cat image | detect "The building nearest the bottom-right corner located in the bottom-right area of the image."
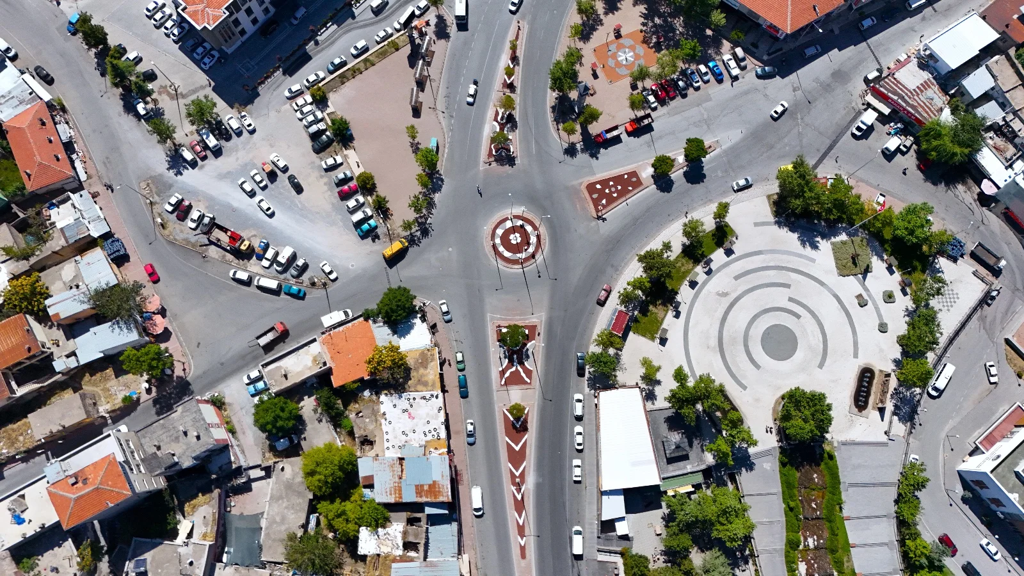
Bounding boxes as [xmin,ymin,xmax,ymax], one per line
[958,402,1024,541]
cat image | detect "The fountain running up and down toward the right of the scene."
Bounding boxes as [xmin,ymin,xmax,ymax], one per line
[849,365,878,418]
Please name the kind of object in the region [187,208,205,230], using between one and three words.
car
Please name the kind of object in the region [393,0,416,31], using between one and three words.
vehicle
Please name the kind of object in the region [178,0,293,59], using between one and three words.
building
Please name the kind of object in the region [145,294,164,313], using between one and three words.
umbrella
